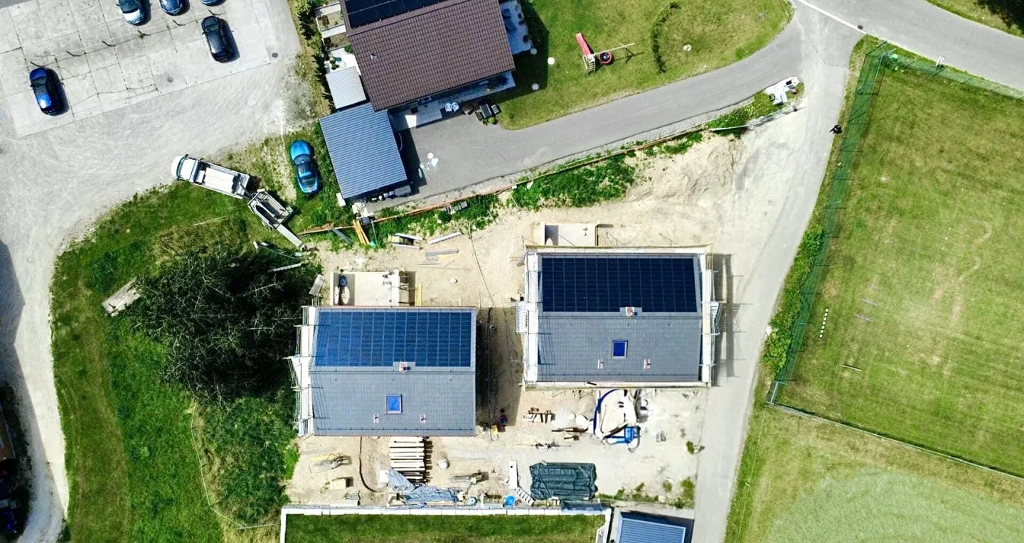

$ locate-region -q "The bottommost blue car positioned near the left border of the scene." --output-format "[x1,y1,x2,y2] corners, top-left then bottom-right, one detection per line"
[24,64,60,113]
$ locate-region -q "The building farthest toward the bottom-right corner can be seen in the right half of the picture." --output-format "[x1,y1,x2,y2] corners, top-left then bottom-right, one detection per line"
[615,511,687,543]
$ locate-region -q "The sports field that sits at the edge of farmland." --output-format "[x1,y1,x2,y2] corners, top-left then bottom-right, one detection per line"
[768,66,1024,477]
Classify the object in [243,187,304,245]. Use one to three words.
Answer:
trailer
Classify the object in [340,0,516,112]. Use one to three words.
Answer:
house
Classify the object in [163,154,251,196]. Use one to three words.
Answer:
truck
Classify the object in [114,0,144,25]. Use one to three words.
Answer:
car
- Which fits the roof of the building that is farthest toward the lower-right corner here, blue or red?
blue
